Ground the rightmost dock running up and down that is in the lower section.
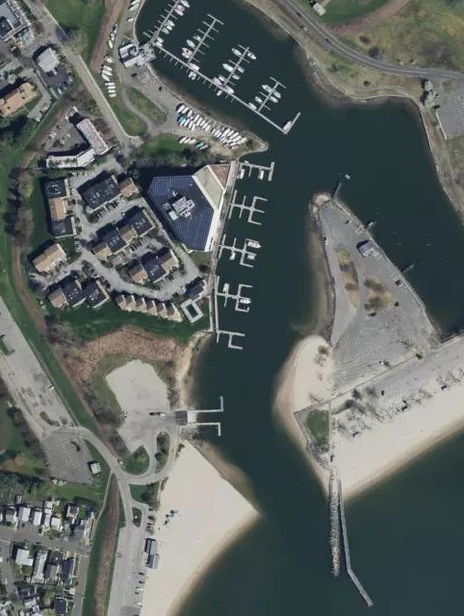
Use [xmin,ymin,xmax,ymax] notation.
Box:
[338,473,374,607]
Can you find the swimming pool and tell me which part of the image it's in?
center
